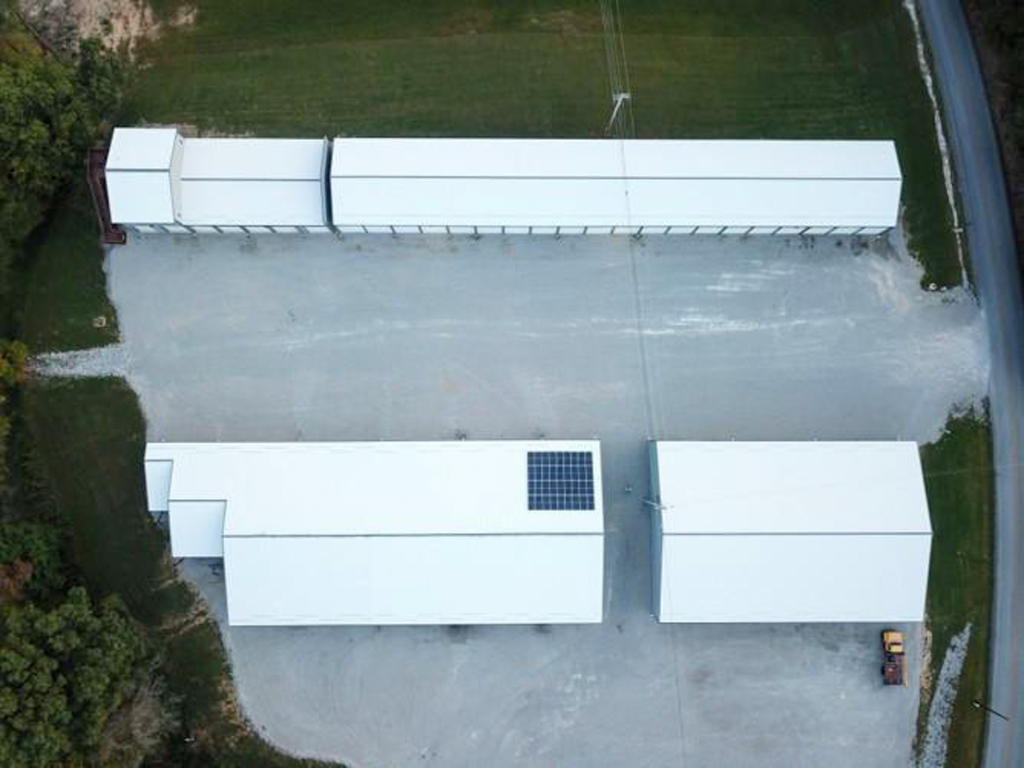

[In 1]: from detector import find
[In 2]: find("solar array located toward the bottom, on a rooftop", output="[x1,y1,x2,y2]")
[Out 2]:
[527,452,594,510]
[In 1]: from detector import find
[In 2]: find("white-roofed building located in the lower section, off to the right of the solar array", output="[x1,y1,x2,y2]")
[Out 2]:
[650,439,932,623]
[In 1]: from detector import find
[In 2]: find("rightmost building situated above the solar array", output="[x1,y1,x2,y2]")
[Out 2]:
[330,137,901,238]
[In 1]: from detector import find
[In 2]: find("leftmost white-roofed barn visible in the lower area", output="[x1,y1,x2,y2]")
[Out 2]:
[144,439,604,626]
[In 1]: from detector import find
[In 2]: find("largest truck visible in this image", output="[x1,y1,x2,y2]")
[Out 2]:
[883,629,909,689]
